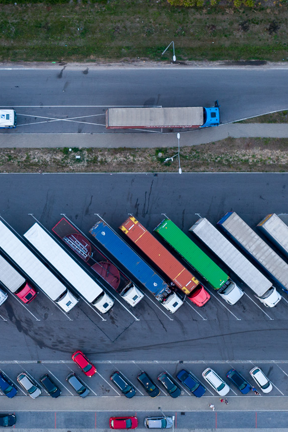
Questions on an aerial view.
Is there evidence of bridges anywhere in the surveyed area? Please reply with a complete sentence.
No, I find no bridge anywhere in the image.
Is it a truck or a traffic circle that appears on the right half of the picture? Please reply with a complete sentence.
The feature located on the right half of the picture is a truck.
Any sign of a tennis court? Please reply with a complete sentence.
No, I can see no tennis court in this picture.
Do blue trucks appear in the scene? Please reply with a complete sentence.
Yes, a blue truck is visible in the scene.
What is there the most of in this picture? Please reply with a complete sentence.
Most of the picture is covered by paved ground.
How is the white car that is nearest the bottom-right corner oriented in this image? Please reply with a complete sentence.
I'd say the white car that is nearest the bottom-right corner is aligned on a diagonal in the picture.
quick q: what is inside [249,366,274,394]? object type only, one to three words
car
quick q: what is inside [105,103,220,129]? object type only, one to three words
truck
